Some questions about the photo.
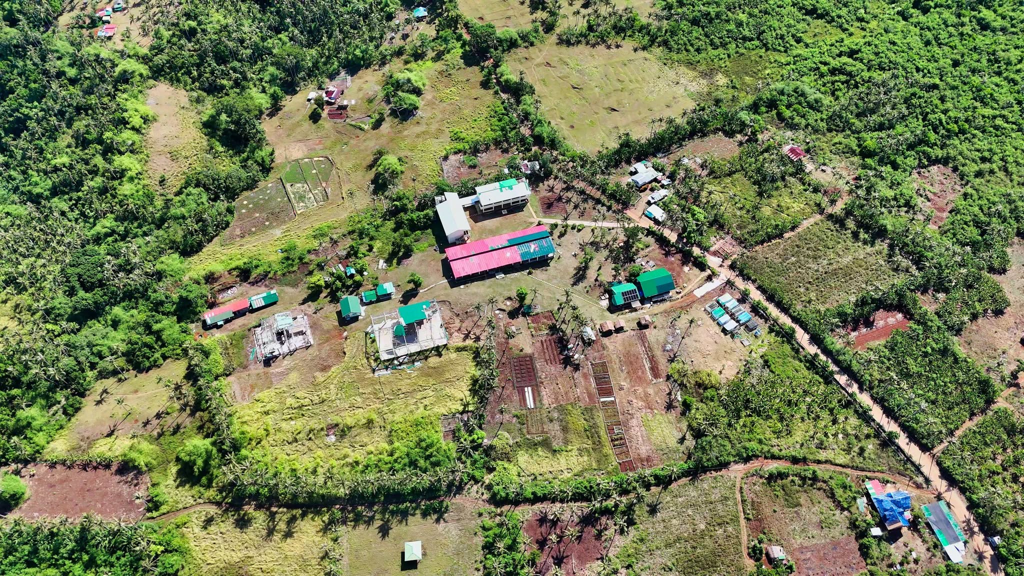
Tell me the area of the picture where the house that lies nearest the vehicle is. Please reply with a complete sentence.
Look in the bottom right portion of the view to spot the house that lies nearest the vehicle.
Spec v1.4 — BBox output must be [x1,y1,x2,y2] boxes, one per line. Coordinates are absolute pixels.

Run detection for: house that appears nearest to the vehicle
[918,501,965,549]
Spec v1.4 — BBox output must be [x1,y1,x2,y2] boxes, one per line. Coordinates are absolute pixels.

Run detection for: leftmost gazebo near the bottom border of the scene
[404,540,422,562]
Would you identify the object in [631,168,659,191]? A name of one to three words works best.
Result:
house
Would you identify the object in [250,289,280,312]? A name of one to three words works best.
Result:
shed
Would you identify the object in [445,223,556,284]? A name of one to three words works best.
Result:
building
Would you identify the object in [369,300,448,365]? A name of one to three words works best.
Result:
building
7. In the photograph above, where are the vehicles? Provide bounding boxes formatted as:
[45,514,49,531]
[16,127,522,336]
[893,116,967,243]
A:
[988,532,1006,549]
